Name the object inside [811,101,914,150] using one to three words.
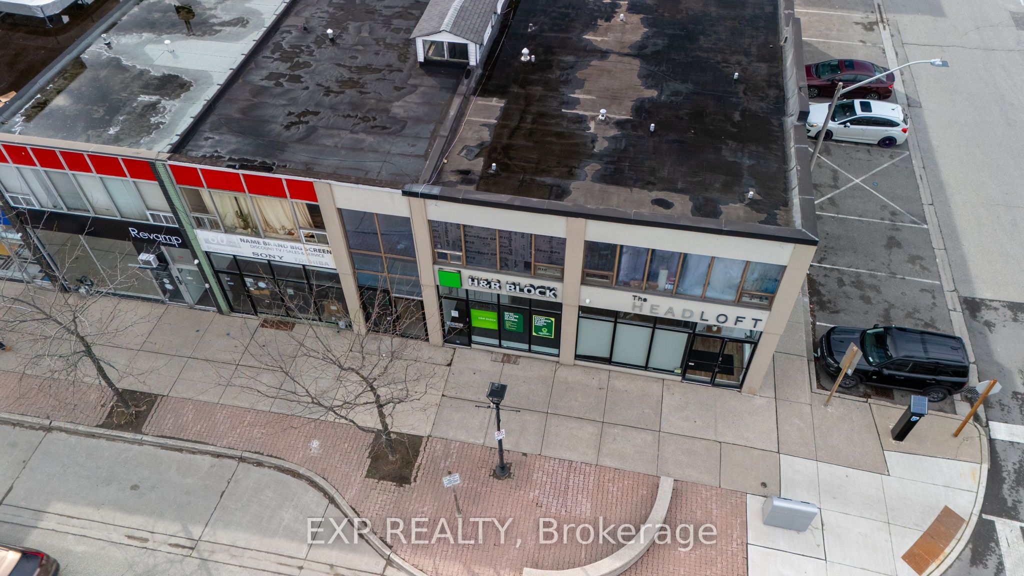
car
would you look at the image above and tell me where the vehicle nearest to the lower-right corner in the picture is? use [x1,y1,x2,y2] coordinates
[822,321,974,403]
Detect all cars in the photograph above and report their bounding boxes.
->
[0,533,57,576]
[822,321,974,403]
[811,101,914,150]
[806,60,898,103]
